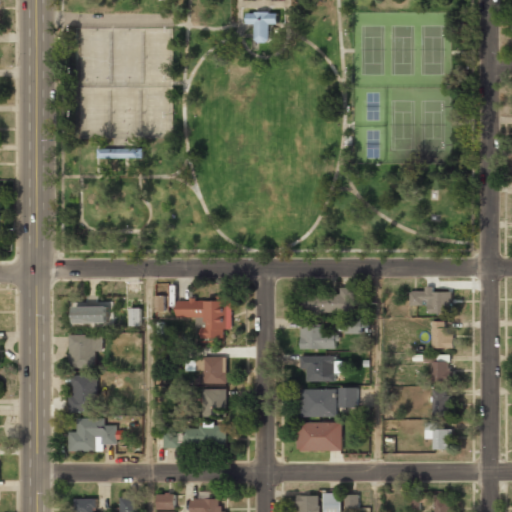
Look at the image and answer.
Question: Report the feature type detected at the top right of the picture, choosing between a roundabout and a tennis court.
tennis court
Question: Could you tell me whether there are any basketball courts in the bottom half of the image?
No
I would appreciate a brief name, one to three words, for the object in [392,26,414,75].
tennis court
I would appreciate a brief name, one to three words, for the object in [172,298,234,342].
house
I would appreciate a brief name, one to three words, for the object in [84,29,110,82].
basketball court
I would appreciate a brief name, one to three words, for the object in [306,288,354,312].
house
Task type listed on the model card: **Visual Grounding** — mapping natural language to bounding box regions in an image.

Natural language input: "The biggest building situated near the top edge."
[244,11,278,40]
